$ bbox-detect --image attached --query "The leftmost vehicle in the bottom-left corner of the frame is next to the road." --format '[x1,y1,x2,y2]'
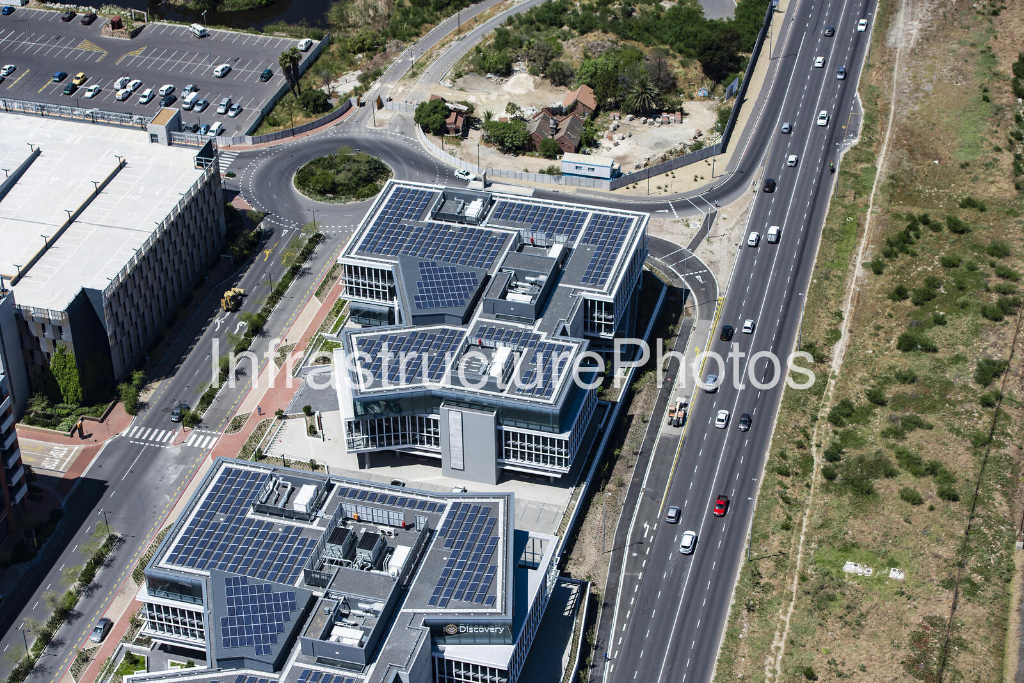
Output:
[88,618,113,644]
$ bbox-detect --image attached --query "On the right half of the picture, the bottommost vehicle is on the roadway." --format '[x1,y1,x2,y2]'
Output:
[680,531,697,555]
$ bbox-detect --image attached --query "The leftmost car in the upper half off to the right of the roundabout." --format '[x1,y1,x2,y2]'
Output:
[452,168,477,181]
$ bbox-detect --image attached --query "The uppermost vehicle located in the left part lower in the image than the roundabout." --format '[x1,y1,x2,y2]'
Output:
[221,286,249,309]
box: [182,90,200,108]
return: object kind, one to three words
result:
vehicle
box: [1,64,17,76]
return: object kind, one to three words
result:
vehicle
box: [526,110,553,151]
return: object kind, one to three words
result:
house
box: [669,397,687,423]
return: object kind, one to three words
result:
work vehicle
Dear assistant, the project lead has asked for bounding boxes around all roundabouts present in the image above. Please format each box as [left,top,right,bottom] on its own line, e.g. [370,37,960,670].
[236,128,450,234]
